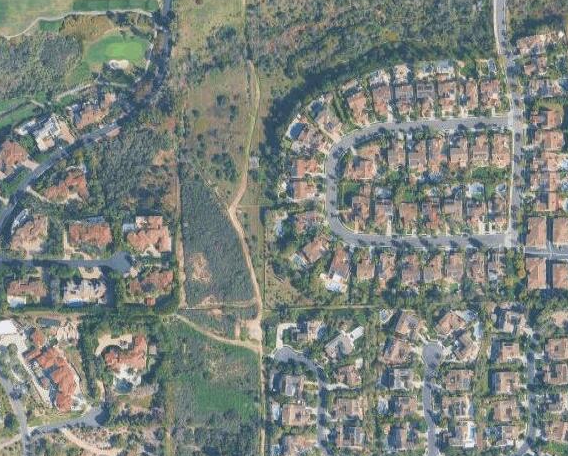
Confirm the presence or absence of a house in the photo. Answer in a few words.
Yes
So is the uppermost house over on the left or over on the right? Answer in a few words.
right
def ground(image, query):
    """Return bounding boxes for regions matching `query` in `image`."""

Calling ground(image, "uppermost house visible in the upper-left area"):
[74,88,119,131]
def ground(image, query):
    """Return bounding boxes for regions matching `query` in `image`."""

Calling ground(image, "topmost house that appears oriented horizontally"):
[515,31,556,54]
